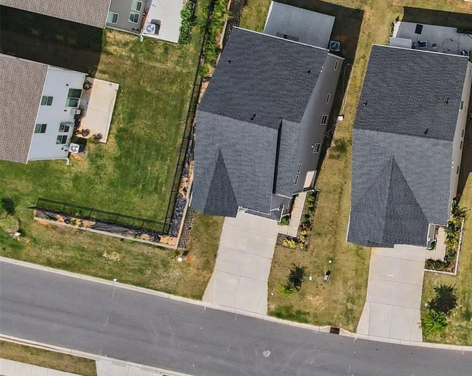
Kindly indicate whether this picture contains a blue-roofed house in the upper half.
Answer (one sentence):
No, no blue-roofed house can be made out in the upper half.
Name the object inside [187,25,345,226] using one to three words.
house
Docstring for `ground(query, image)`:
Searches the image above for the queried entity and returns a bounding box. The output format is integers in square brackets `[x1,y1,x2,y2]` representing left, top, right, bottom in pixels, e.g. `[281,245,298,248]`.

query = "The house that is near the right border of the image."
[346,42,472,250]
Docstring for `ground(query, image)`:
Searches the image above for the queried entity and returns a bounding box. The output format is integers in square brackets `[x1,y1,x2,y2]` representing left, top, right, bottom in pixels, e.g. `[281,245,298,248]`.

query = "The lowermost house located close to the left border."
[0,55,87,163]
